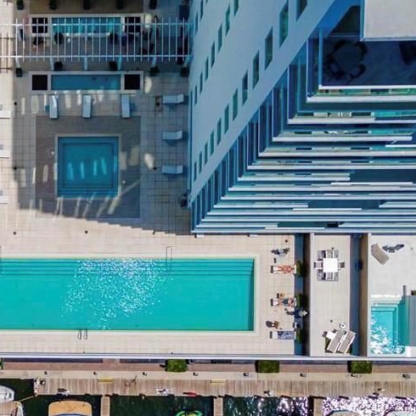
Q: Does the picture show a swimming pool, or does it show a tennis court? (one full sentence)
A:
Looking from above, you can make out a swimming pool.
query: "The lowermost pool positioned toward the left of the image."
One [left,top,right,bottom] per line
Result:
[0,254,259,336]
